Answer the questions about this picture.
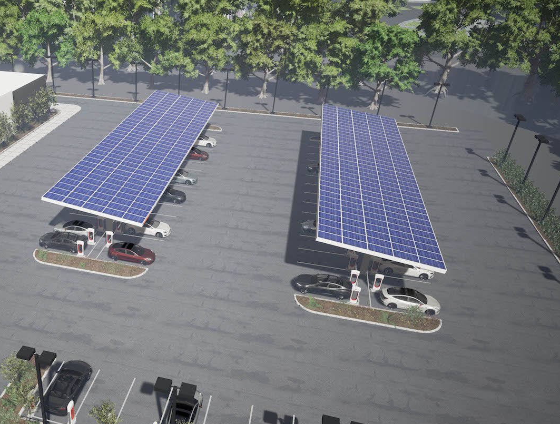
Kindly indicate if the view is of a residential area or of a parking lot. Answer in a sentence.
It's a parking lot.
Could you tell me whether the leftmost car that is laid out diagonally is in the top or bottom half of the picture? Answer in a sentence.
Seen from above, the leftmost car that is laid out diagonally lies in the bottom half of the view.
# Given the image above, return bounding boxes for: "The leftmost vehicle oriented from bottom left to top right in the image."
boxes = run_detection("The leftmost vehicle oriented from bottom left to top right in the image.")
[43,359,90,414]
